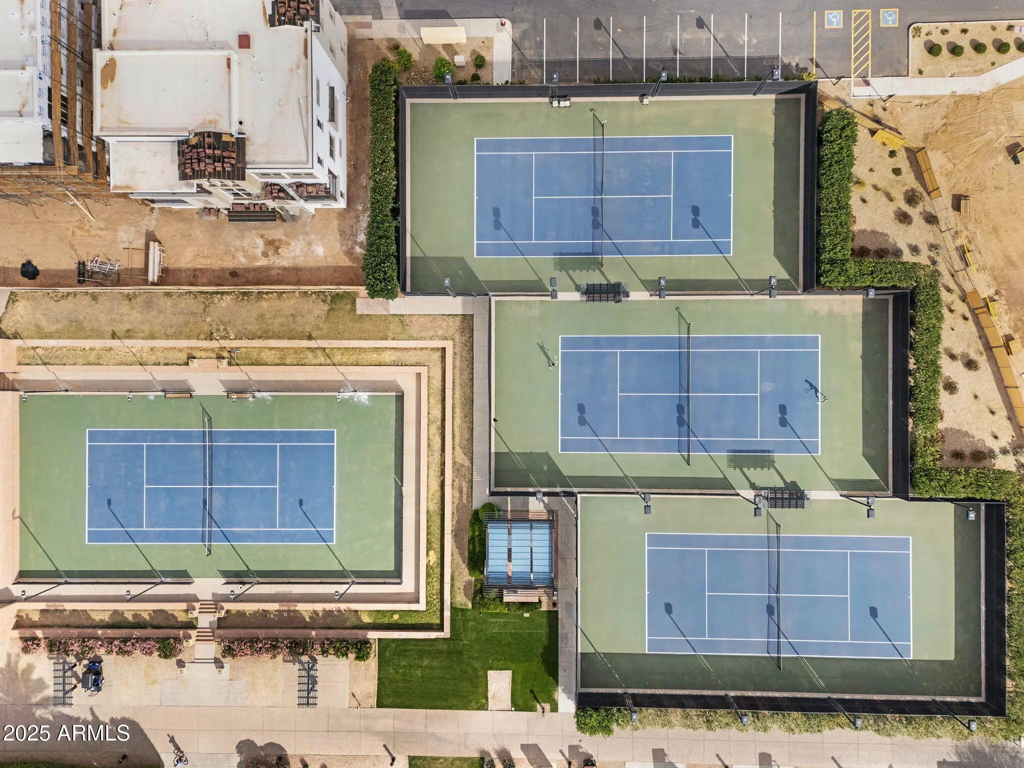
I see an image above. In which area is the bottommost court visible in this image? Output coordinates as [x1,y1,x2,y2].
[579,494,986,702]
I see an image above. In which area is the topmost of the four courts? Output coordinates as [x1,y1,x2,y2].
[406,94,805,298]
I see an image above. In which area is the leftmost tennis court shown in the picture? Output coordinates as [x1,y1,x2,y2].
[18,390,403,584]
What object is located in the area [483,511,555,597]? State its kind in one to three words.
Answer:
building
